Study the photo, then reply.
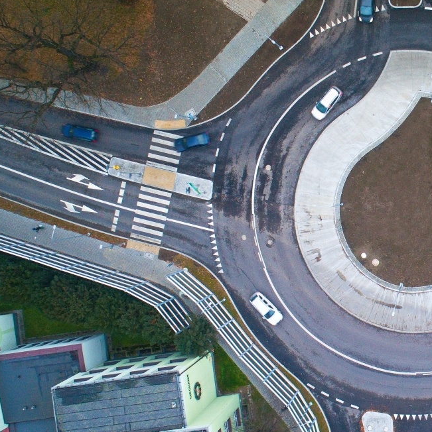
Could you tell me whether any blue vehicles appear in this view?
Yes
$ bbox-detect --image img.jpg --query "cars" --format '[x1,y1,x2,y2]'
[248,293,283,327]
[356,0,374,23]
[311,85,341,119]
[59,122,97,142]
[173,134,210,151]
